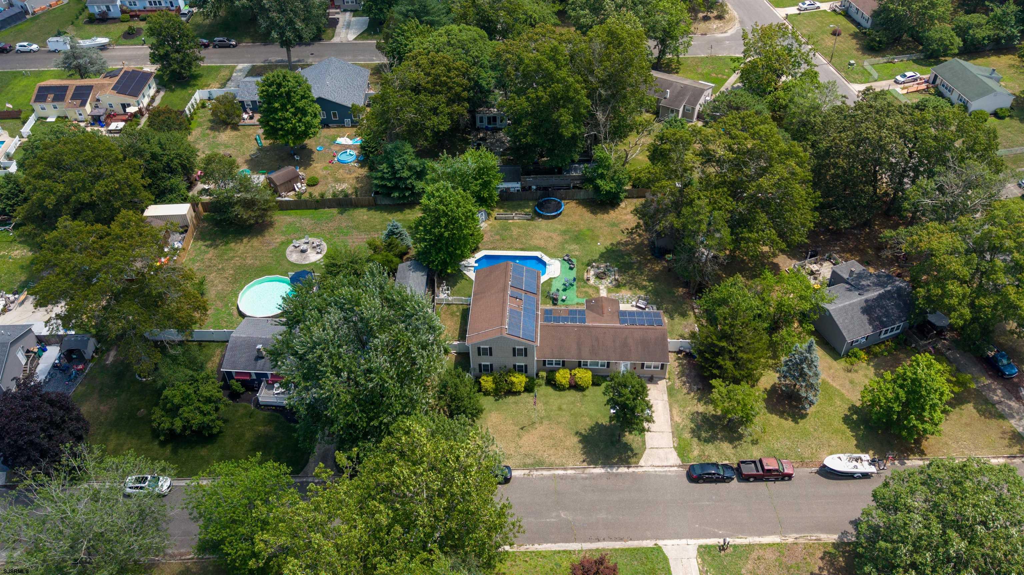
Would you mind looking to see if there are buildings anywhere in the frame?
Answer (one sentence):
Yes, there's a building here.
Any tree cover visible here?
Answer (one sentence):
Yes, there's tree cover in this view.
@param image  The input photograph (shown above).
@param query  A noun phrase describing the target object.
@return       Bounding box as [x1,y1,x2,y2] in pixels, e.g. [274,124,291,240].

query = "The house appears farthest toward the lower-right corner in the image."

[799,259,916,356]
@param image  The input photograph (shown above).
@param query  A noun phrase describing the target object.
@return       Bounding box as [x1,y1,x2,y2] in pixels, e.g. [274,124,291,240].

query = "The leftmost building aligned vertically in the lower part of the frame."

[0,324,38,405]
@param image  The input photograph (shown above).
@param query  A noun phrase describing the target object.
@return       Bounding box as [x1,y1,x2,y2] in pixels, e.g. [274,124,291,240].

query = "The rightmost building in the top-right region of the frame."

[927,58,1016,114]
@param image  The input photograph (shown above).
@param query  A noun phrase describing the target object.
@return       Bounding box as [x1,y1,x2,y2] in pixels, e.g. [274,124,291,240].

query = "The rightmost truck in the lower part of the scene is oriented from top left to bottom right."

[986,347,1024,384]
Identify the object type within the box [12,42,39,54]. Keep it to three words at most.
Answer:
vehicle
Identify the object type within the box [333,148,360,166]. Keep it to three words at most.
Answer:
swimming pool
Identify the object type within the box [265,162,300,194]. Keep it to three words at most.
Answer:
shed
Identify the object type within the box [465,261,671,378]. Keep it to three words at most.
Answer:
house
